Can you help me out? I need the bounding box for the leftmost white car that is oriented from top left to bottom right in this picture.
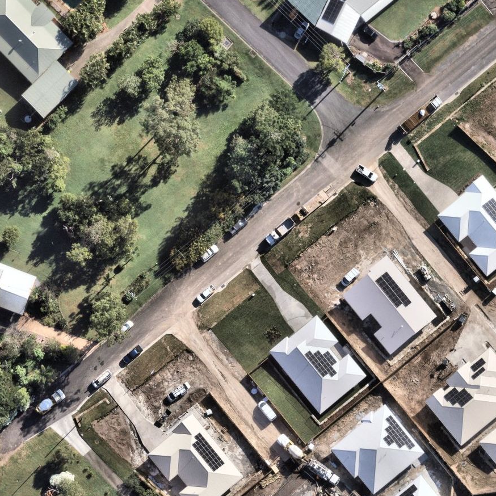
[254,399,279,424]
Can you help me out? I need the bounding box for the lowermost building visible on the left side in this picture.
[148,414,243,496]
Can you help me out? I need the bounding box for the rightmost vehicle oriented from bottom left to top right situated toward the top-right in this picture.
[401,93,447,137]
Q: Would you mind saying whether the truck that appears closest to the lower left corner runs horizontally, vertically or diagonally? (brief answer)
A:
diagonally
